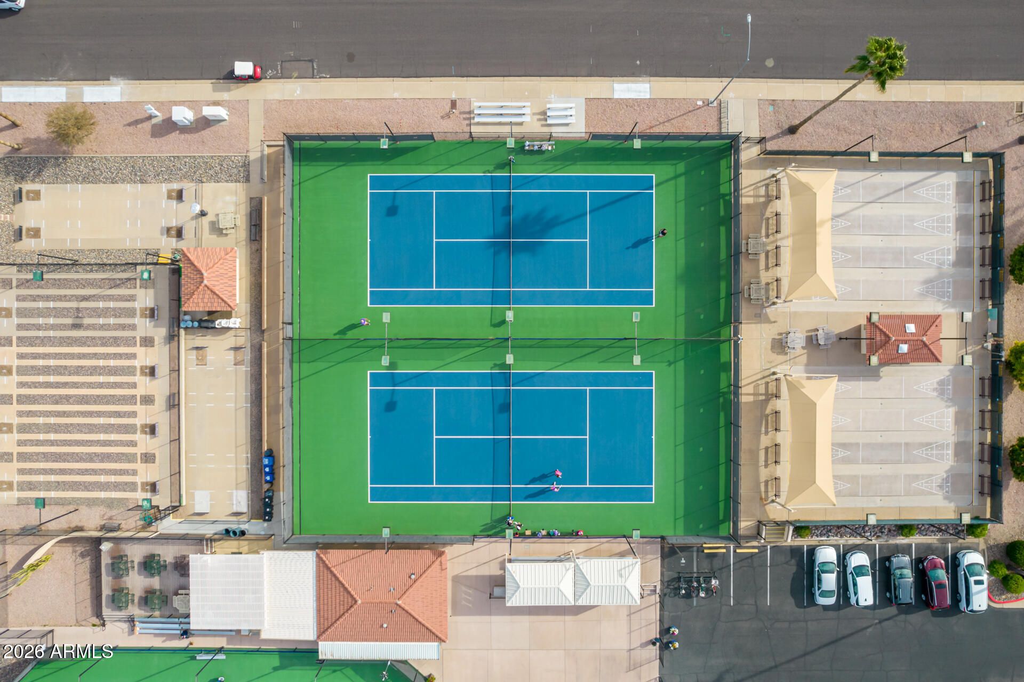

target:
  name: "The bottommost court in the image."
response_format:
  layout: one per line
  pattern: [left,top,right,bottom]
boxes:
[22,648,411,682]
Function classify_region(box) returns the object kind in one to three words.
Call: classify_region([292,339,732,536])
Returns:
tennis court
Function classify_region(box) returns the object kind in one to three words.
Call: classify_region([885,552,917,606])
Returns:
car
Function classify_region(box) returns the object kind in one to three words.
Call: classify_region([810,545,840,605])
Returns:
car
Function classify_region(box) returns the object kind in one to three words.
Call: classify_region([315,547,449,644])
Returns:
building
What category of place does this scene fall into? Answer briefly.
sports ground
